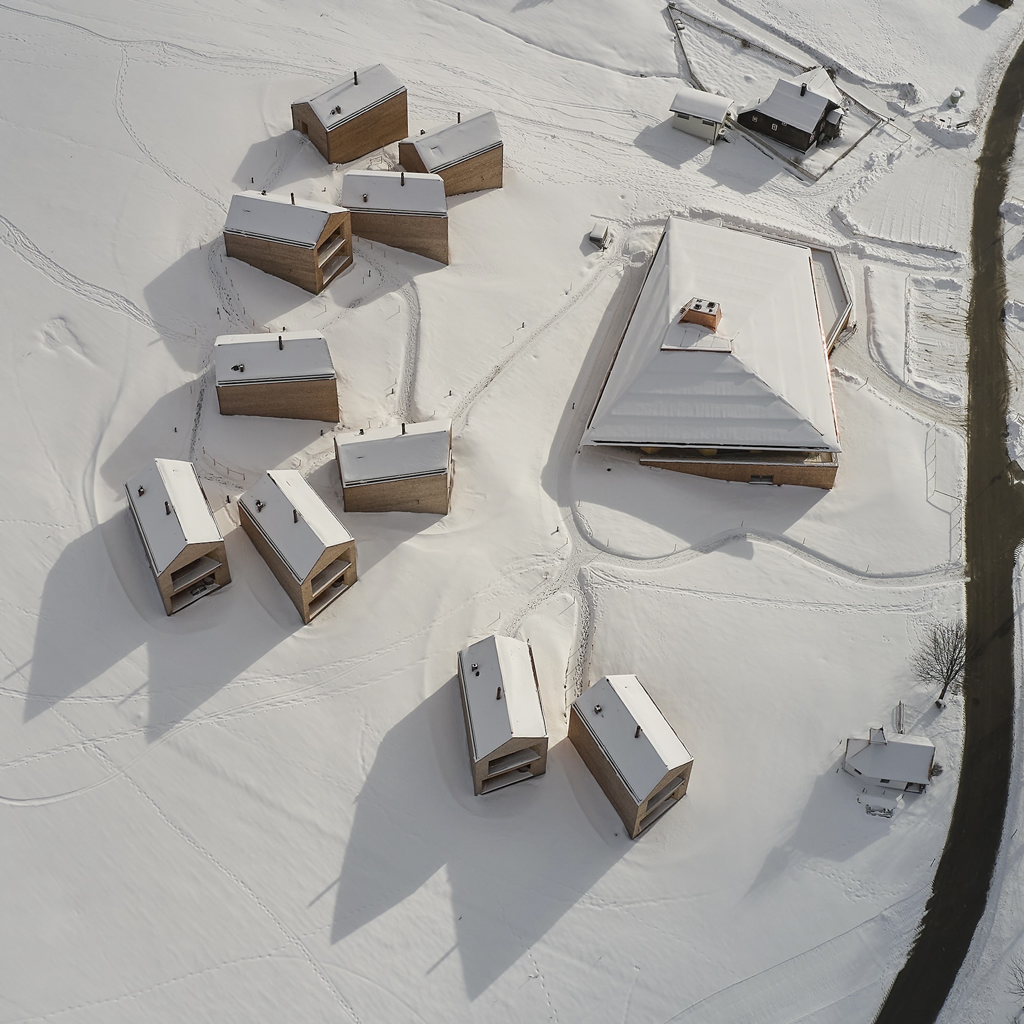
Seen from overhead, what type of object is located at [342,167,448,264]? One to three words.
house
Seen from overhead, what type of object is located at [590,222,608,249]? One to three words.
building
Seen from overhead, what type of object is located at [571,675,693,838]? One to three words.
house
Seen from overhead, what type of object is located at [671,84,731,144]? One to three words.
shed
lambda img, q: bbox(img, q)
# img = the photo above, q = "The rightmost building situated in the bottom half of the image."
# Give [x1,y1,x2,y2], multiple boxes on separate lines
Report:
[841,724,935,796]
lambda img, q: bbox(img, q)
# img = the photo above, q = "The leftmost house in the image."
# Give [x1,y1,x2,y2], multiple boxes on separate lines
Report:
[123,457,231,614]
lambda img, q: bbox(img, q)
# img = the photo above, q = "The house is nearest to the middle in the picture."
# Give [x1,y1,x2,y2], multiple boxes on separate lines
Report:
[335,419,451,513]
